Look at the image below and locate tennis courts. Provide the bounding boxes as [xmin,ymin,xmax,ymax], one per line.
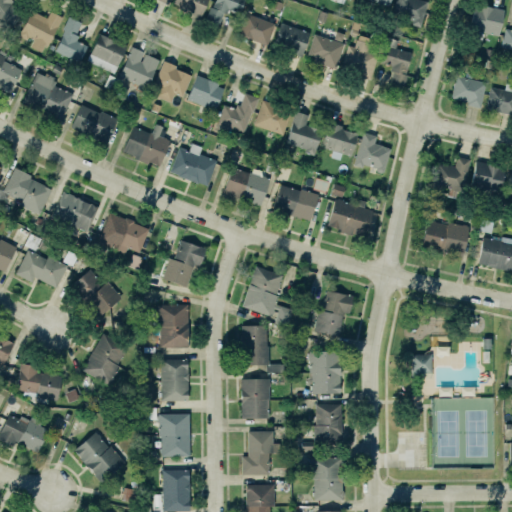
[464,398,494,468]
[433,398,464,468]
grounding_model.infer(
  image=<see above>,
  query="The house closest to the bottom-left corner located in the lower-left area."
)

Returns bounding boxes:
[0,412,48,454]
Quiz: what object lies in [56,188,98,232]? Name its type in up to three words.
house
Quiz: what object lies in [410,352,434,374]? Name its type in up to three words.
building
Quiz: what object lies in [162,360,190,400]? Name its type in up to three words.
house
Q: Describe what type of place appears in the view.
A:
residential area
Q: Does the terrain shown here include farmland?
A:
No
